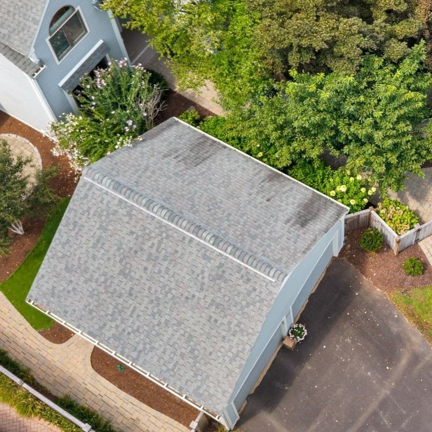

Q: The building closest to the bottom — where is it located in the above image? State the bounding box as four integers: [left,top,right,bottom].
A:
[24,114,352,431]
